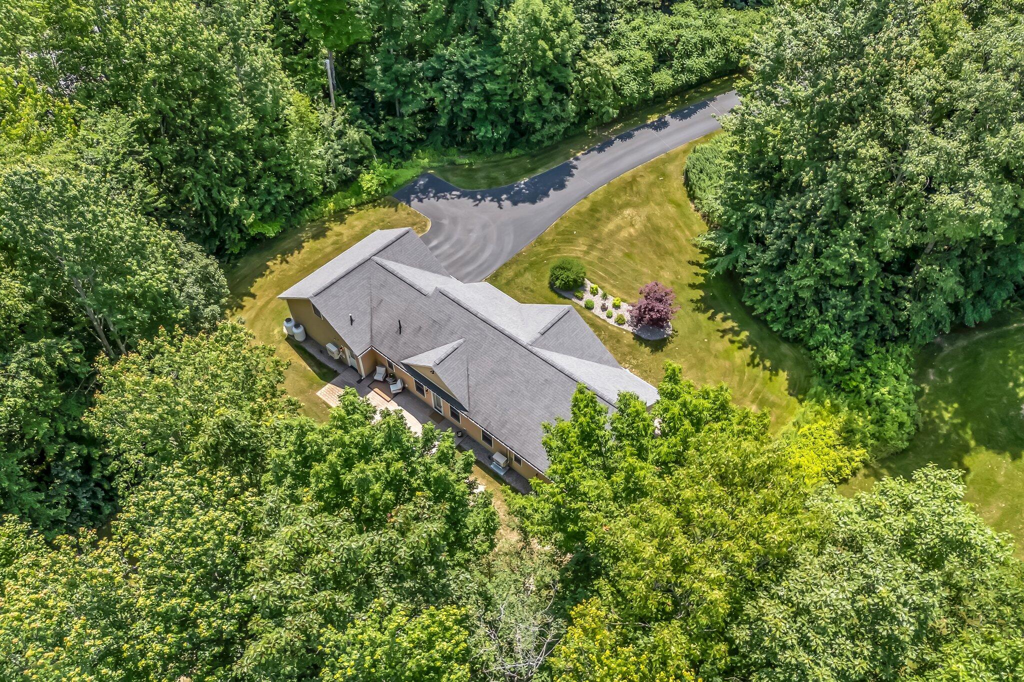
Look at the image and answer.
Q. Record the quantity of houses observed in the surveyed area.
1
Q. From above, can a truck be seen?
No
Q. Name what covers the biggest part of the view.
trees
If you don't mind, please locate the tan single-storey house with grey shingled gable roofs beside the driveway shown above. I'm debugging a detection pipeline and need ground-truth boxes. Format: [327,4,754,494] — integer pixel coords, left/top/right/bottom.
[279,227,661,493]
